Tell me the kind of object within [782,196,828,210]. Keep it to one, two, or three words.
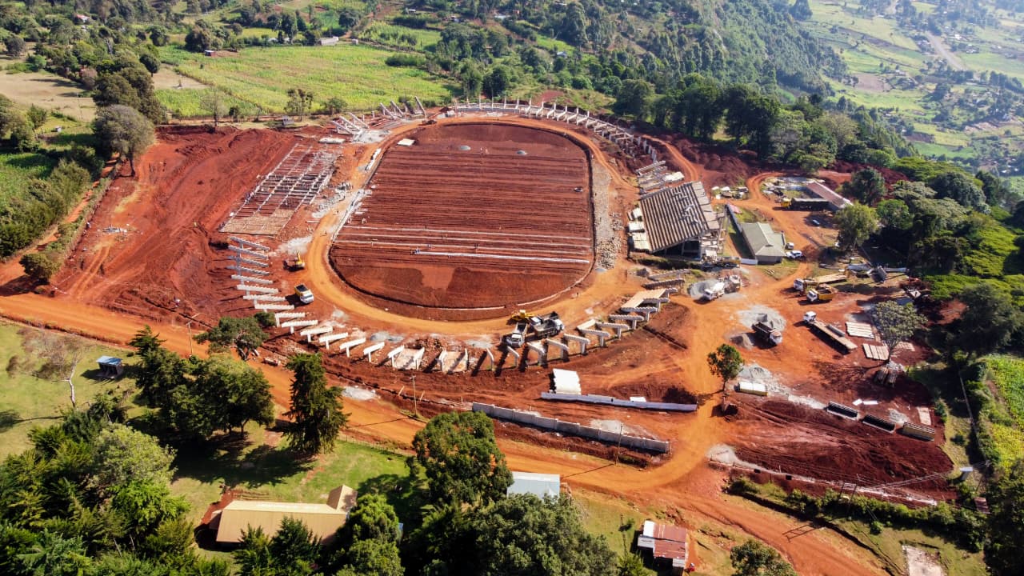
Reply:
vehicle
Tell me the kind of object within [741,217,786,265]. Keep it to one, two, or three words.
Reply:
house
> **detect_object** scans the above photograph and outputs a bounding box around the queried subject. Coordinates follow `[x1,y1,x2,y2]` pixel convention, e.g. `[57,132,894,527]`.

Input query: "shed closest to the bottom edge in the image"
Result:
[637,521,688,574]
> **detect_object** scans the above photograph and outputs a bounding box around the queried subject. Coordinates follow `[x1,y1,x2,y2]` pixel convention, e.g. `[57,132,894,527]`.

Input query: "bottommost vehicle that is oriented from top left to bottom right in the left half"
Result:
[290,279,313,301]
